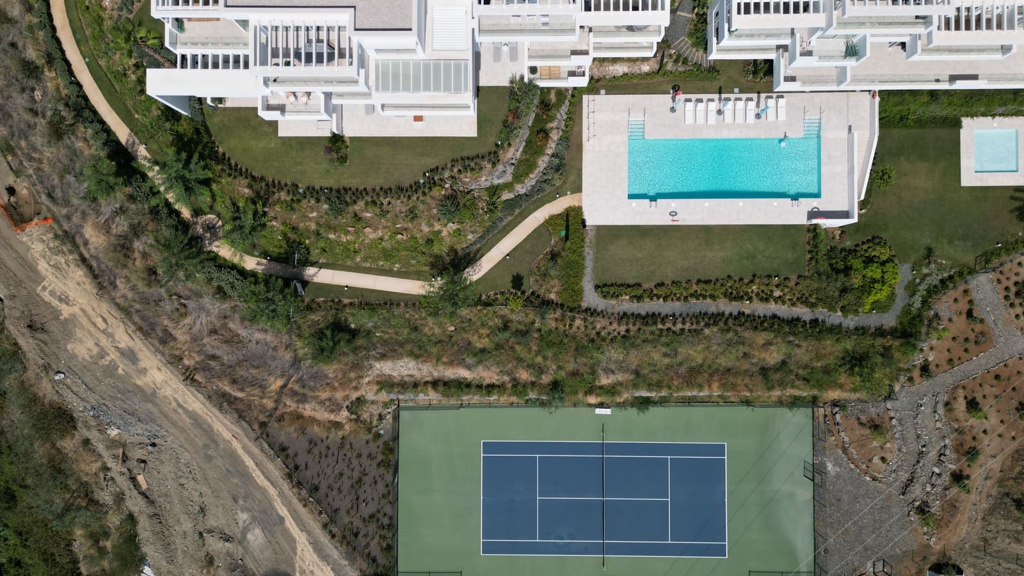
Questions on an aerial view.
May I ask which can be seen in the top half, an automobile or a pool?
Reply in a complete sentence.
You can see a pool in the top half.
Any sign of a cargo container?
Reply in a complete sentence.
No, I can't see a single cargo container in this photo.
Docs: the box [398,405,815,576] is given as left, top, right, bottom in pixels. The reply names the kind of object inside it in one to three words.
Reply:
tennis court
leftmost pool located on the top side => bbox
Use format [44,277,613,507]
[582,91,855,226]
